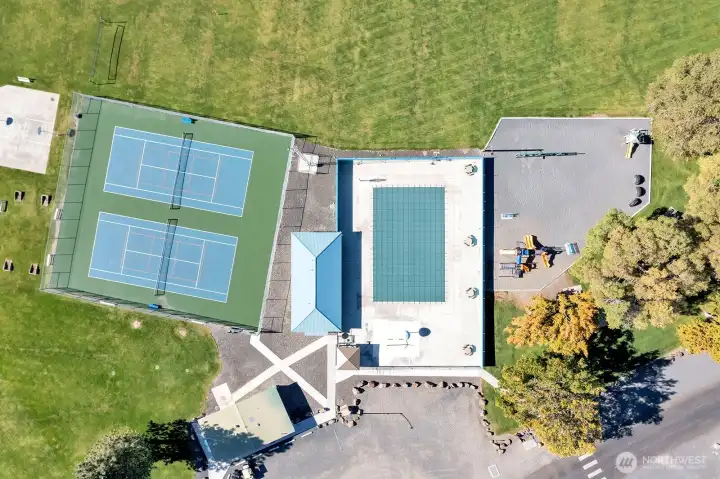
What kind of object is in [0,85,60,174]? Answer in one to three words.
basketball court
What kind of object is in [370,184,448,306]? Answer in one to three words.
swimming pool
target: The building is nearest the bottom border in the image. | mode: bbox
[198,385,296,465]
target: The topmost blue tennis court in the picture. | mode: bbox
[103,127,254,216]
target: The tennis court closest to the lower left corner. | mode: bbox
[88,212,238,302]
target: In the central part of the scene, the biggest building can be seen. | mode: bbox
[290,232,342,335]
